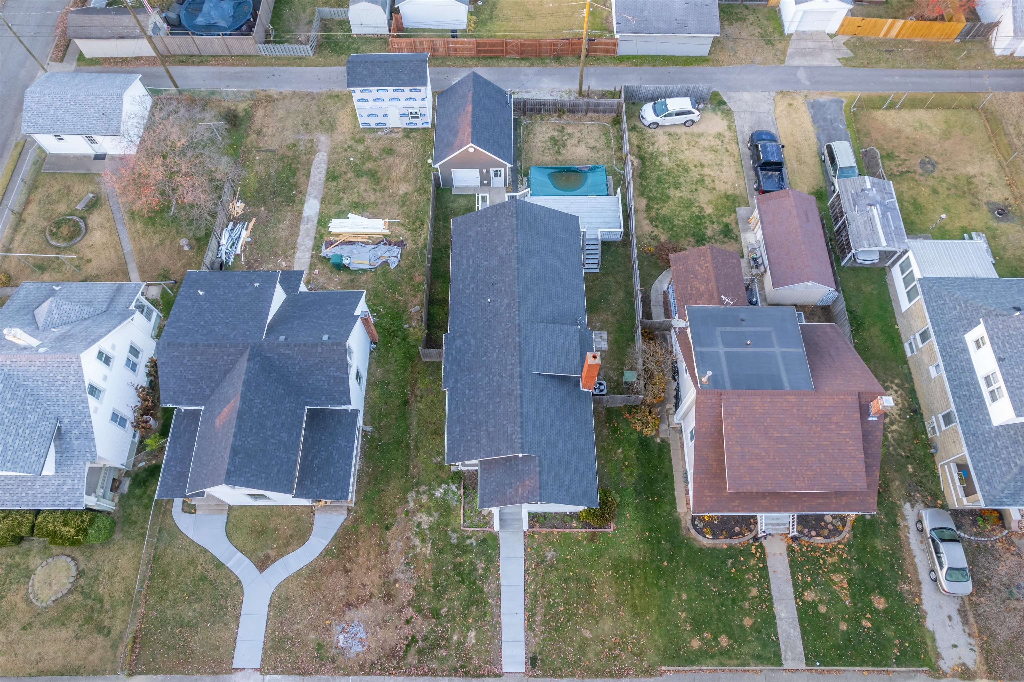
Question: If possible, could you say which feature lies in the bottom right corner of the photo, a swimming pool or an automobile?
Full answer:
It is an automobile that can be seen in the bottom right corner of the photo.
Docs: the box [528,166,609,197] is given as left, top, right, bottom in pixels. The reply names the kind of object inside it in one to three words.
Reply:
swimming pool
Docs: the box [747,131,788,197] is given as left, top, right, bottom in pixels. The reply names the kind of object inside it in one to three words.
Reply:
truck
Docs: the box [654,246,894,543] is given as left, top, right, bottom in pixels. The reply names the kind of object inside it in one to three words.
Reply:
house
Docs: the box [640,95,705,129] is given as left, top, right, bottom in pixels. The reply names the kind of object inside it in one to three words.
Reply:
car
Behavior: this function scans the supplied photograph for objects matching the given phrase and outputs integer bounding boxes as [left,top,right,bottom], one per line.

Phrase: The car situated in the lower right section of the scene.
[919,510,977,601]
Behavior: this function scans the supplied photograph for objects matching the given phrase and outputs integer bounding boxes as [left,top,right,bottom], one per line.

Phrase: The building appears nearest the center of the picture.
[441,198,602,532]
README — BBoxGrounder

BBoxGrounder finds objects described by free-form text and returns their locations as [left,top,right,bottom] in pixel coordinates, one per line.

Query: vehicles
[919,510,977,601]
[854,250,884,260]
[747,131,788,197]
[640,95,705,129]
[822,137,862,196]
